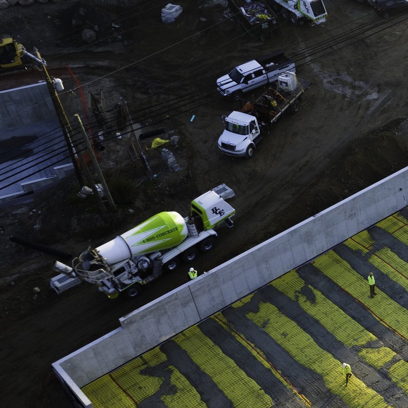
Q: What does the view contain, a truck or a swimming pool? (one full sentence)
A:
It is a truck that can be seen here.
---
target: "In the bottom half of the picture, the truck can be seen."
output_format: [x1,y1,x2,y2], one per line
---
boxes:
[61,194,247,305]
